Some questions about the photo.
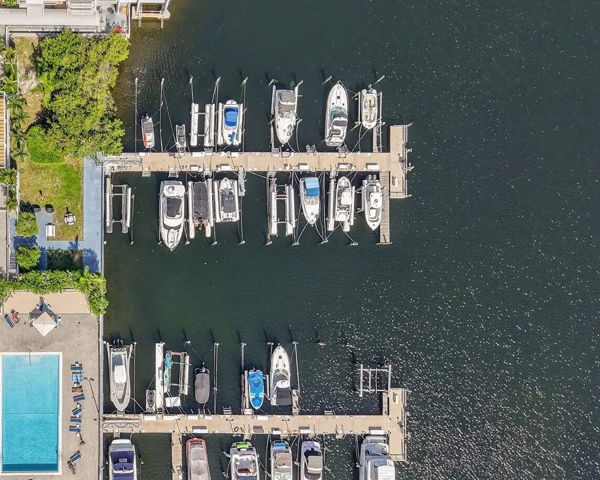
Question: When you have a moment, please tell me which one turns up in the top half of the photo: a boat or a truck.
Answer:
boat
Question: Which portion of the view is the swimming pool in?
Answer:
bottom left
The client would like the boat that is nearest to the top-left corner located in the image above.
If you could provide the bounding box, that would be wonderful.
[140,114,156,152]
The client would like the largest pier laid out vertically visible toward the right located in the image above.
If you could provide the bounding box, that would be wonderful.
[378,172,391,243]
